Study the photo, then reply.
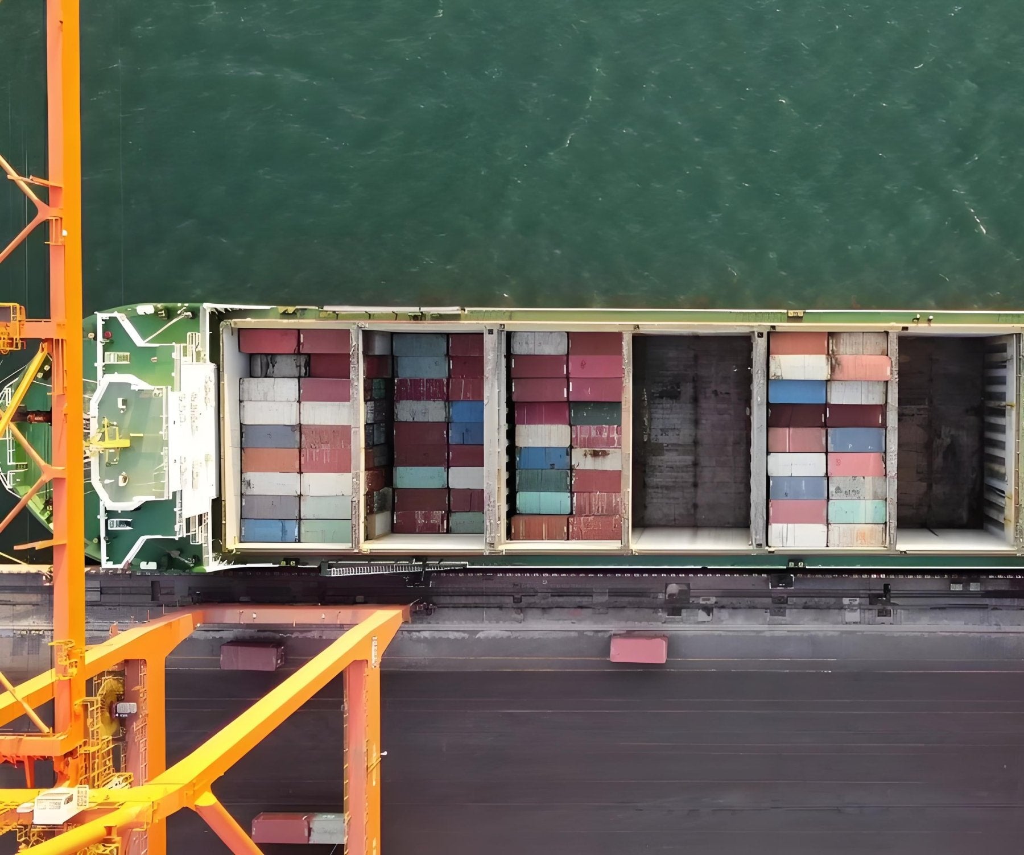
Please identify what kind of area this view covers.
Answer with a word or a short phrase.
port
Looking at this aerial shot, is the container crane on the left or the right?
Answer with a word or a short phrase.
left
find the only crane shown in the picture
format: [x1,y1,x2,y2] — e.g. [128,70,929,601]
[0,0,444,855]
